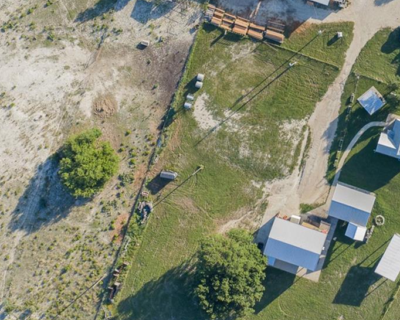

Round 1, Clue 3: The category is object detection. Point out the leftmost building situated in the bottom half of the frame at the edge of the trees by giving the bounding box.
[264,215,328,271]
